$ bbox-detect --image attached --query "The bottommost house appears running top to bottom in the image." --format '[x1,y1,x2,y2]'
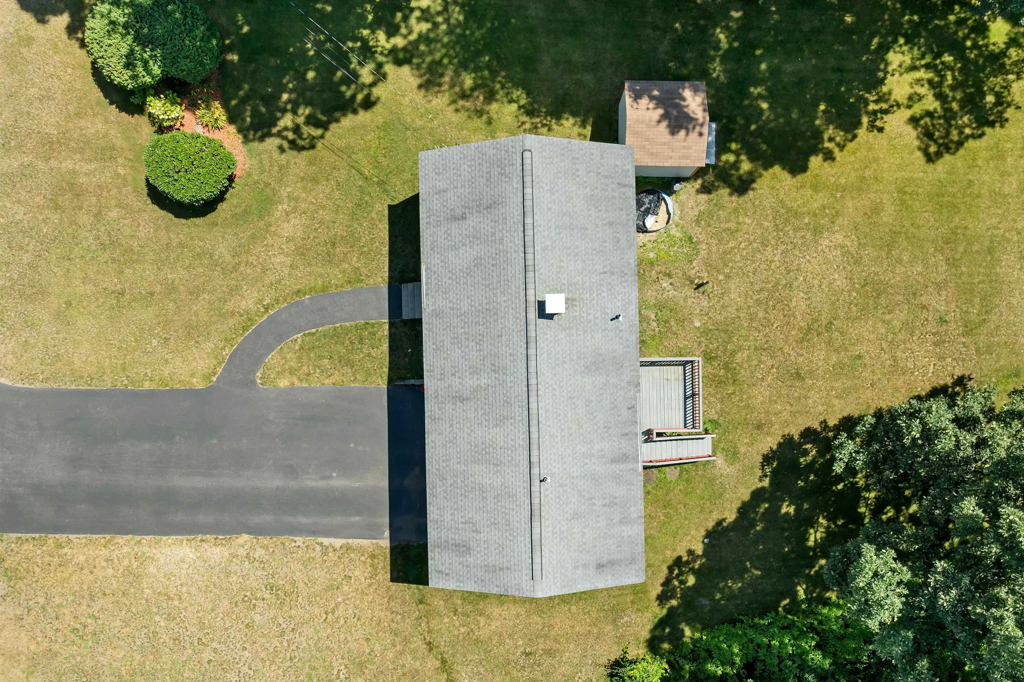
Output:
[417,136,646,599]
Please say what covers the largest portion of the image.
grass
